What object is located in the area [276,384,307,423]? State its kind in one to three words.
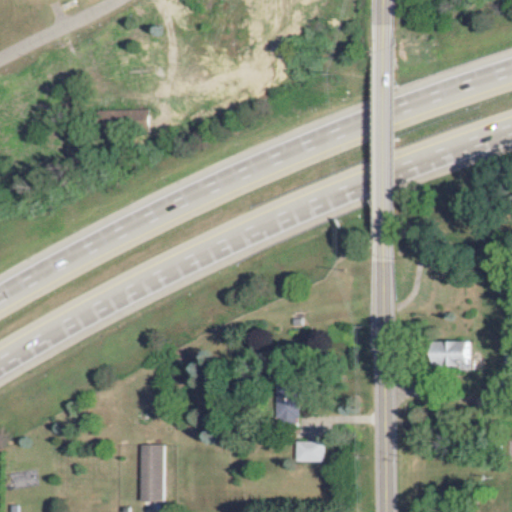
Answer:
house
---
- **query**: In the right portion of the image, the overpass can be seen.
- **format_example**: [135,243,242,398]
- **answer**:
[370,22,395,262]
